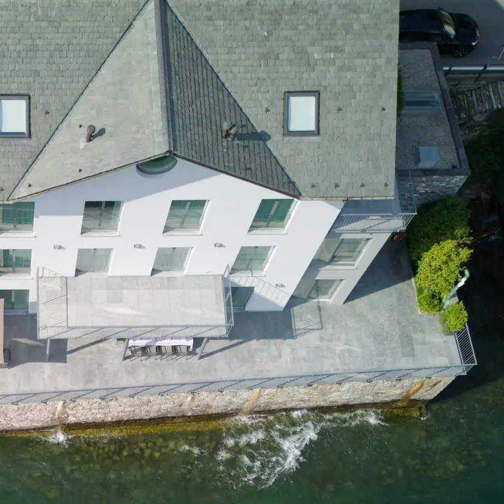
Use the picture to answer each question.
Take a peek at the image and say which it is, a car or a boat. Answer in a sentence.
The one in the frame is a car.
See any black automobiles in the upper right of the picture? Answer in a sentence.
Yes, you'll find a black automobile in the upper right of the picture.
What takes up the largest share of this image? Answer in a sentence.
What you mostly see from above here is buildings.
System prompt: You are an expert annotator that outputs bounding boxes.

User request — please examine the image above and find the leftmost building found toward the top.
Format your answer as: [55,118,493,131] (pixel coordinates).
[0,0,415,363]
